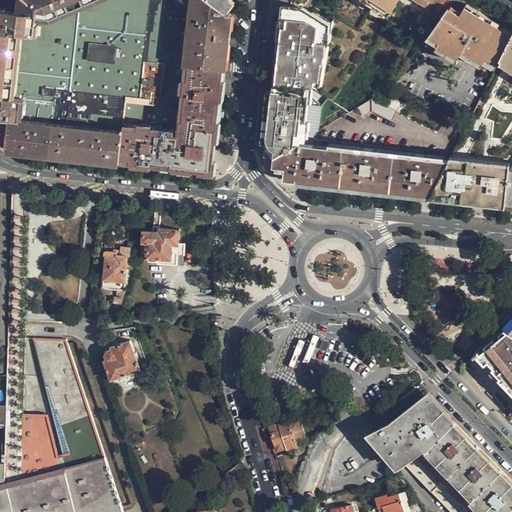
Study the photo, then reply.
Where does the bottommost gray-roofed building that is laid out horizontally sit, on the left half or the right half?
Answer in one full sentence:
The bottommost gray-roofed building that is laid out horizontally sits on the left side.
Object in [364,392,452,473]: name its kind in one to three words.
building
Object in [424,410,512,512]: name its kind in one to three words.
building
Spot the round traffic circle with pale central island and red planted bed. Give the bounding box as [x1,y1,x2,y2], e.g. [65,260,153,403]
[288,224,381,314]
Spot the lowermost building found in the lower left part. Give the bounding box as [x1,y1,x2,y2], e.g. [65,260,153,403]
[0,456,126,512]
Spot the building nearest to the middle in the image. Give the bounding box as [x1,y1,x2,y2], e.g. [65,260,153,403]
[140,212,186,265]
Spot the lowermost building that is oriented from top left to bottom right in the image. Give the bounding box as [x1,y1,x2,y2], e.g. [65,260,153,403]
[409,462,456,512]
